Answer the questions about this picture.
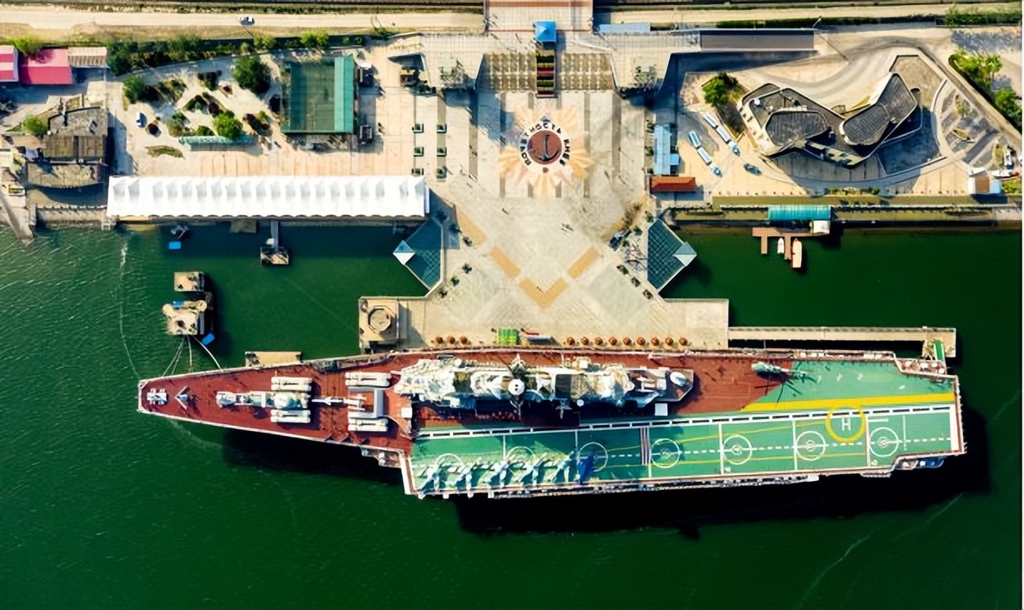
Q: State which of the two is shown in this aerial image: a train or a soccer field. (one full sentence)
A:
There is a train in the scene.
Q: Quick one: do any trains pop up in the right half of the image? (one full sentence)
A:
Yes, a train shows up in the right half of the image.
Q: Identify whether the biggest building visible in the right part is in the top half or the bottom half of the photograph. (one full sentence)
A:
It is in the top half that the biggest building visible in the right part appears.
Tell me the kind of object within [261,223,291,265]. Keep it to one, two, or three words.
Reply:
pier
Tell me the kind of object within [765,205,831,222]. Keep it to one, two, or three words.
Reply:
house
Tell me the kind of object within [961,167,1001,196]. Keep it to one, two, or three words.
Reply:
shed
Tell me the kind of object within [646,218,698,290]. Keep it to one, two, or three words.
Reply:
building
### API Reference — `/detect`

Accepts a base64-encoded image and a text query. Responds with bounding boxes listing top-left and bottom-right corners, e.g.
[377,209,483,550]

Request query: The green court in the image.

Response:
[284,55,357,138]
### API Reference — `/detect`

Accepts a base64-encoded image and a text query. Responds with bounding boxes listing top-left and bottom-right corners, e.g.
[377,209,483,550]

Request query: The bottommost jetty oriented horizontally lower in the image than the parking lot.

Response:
[729,326,956,358]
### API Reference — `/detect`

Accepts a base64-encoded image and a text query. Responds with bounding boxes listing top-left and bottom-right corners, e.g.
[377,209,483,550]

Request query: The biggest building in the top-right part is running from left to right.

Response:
[735,72,923,167]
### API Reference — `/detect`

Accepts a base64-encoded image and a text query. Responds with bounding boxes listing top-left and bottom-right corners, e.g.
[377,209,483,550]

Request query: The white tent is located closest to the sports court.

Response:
[107,176,429,219]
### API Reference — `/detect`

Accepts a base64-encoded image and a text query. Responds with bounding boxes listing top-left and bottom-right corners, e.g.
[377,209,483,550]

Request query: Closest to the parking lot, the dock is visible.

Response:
[751,227,827,259]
